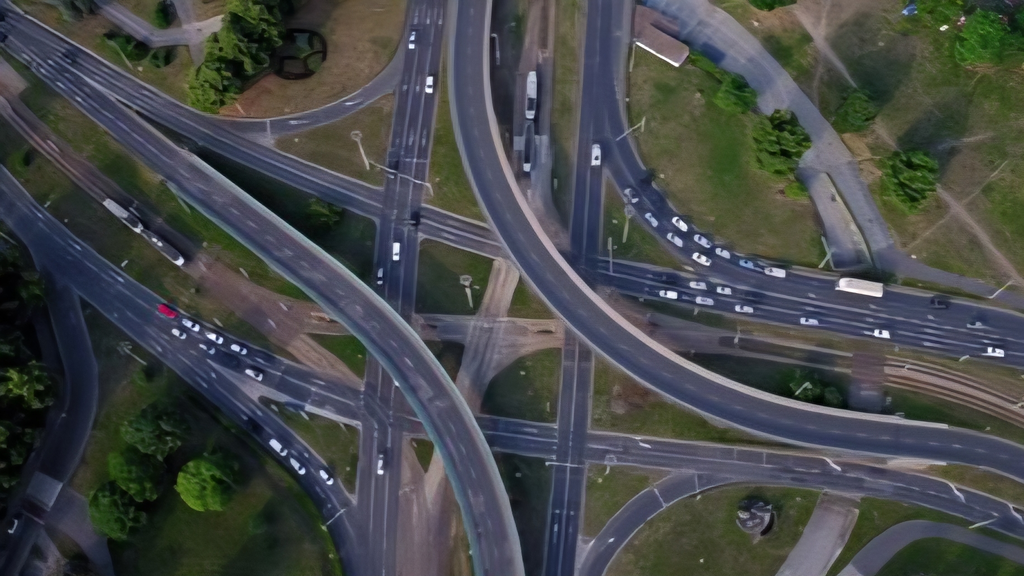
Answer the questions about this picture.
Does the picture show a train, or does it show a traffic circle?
train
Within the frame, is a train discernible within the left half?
Yes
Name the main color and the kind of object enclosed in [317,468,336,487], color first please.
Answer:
white car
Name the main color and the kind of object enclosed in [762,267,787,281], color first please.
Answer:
white vehicle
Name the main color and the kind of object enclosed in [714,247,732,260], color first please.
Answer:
white vehicle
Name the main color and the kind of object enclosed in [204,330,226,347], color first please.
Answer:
white car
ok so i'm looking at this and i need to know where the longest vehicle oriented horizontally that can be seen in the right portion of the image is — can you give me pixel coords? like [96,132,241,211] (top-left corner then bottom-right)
[836,279,884,298]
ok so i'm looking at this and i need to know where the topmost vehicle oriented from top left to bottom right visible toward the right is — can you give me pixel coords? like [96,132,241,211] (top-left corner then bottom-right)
[624,187,641,205]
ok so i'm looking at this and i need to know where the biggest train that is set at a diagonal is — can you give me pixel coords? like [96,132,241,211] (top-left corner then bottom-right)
[105,199,186,267]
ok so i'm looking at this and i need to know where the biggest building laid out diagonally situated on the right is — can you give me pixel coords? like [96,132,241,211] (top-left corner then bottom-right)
[635,5,688,69]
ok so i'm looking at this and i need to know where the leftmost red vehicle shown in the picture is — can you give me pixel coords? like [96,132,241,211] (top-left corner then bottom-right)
[156,302,178,320]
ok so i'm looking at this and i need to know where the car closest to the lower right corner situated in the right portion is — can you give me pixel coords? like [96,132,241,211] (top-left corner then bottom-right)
[985,345,1006,360]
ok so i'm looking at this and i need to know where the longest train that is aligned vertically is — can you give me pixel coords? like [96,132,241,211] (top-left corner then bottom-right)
[522,74,537,174]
